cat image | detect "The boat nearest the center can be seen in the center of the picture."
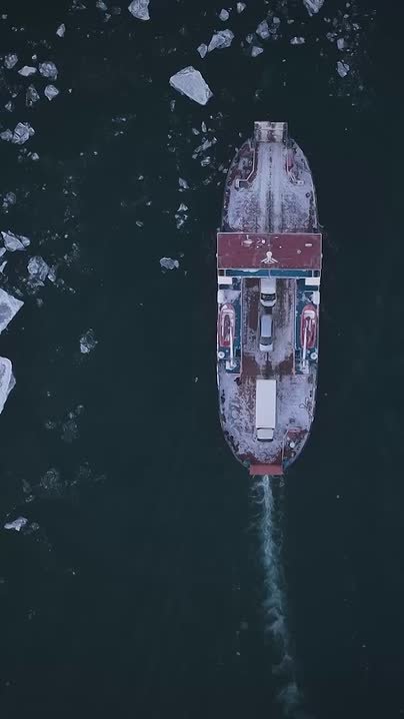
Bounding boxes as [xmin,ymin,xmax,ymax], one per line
[220,303,235,346]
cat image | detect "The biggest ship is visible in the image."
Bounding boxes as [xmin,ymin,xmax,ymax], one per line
[216,120,324,480]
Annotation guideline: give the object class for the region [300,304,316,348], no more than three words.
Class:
boat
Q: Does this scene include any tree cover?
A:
No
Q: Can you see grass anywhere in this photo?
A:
No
